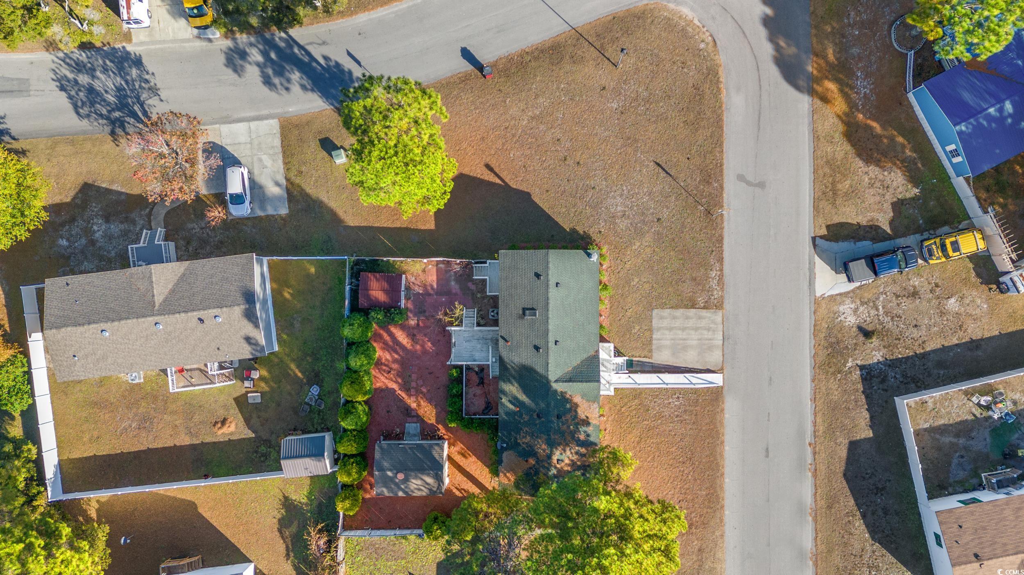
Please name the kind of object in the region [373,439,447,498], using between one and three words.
shed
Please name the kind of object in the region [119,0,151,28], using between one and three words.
van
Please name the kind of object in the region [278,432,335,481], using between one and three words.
shed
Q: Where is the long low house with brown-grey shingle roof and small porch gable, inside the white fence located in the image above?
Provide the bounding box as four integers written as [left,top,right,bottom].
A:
[43,252,280,383]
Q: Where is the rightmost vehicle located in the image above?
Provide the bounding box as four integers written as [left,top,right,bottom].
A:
[999,266,1024,297]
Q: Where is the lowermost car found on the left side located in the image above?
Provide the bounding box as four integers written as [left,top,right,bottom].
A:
[223,163,251,215]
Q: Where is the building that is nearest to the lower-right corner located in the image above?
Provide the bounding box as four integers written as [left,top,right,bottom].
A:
[917,482,1024,575]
